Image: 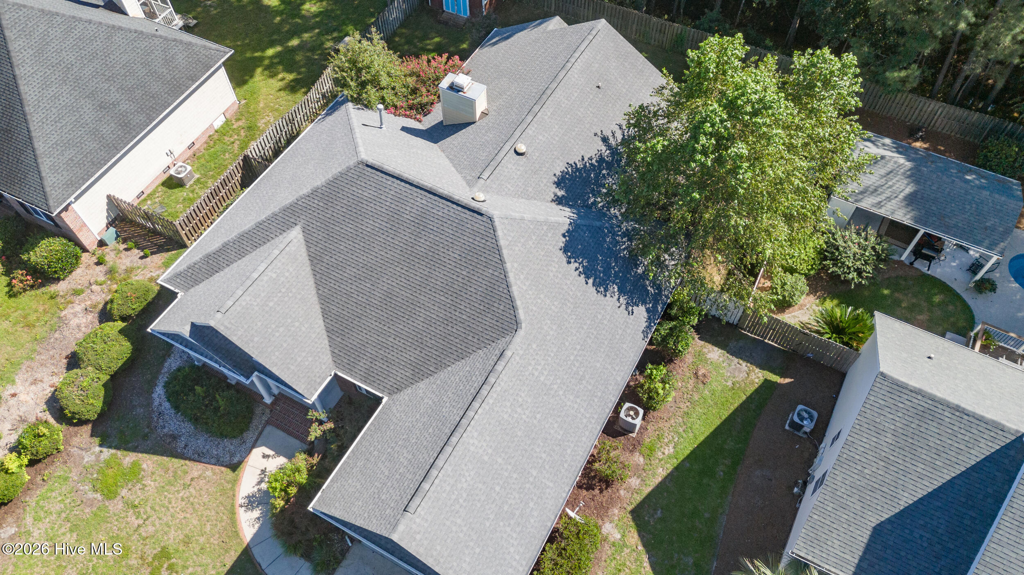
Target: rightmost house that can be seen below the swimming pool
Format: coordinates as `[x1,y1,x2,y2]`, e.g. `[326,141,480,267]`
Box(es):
[778,308,1024,575]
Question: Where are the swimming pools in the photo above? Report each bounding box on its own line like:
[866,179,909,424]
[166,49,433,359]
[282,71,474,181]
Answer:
[1004,244,1024,292]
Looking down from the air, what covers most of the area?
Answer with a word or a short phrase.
buildings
